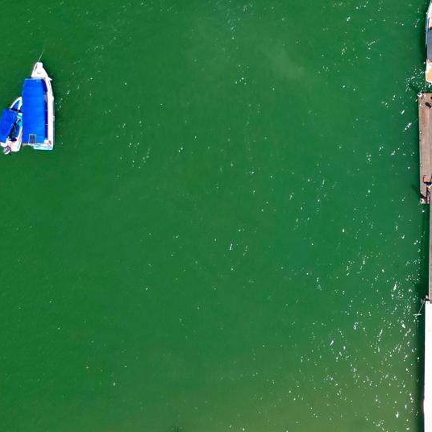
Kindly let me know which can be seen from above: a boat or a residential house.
boat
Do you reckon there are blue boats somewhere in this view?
Yes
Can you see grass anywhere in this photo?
No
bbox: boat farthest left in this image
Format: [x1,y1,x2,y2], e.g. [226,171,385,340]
[0,96,23,155]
